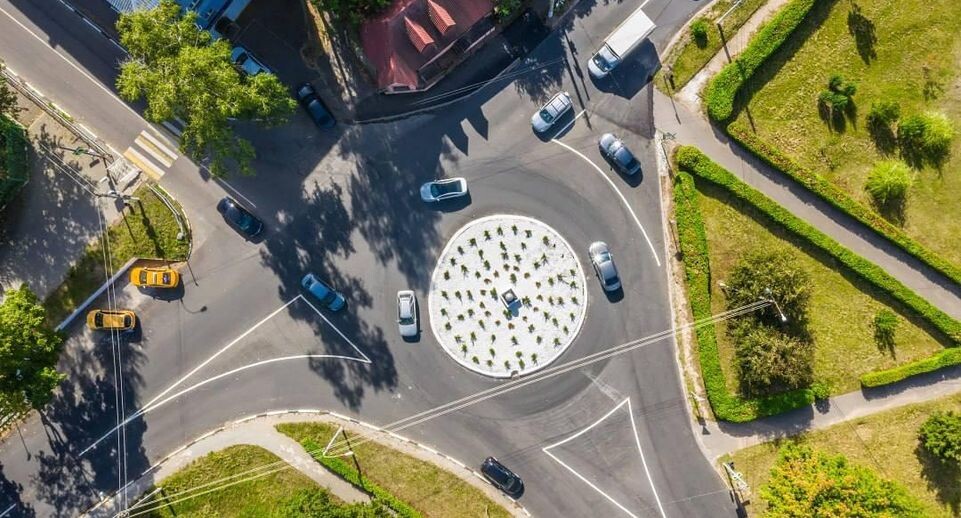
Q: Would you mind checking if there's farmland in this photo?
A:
No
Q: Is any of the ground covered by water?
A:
No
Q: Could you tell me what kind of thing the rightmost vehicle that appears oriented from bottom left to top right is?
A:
truck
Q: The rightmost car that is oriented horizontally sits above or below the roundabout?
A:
above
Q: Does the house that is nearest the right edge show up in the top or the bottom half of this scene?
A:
top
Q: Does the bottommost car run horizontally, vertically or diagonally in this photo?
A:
diagonally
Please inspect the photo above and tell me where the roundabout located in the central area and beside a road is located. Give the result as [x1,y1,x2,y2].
[429,217,588,377]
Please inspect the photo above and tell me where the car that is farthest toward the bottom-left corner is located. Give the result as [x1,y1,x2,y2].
[87,309,136,331]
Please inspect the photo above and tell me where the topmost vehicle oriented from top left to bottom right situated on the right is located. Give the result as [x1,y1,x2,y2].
[601,131,641,175]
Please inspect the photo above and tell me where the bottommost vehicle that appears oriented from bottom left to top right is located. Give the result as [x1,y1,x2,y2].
[530,92,574,131]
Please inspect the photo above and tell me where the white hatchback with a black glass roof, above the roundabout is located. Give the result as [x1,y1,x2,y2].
[419,179,466,201]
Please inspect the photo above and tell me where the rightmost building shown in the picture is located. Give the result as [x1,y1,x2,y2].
[360,0,539,99]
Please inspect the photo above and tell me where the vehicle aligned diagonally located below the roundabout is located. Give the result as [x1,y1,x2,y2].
[480,457,523,497]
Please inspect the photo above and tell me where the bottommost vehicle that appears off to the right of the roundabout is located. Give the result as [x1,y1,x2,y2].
[589,241,619,290]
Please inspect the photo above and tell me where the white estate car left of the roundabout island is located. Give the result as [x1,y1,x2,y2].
[396,291,418,335]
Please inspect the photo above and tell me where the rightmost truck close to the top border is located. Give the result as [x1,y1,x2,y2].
[593,6,658,71]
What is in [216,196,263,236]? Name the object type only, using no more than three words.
car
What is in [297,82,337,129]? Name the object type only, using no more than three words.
car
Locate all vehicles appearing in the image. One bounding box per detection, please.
[228,44,271,82]
[87,309,136,331]
[589,241,619,290]
[530,92,574,131]
[216,196,263,236]
[419,179,466,201]
[297,82,337,129]
[396,291,418,335]
[480,457,523,497]
[131,266,180,288]
[601,131,641,175]
[593,6,658,71]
